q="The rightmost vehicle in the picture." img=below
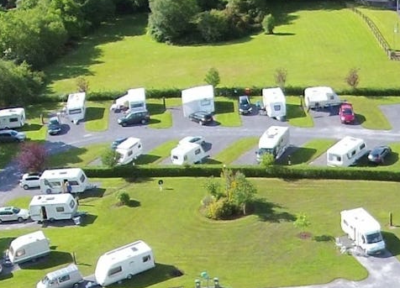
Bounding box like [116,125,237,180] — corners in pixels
[367,148,393,164]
